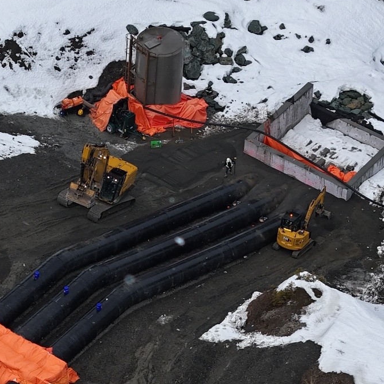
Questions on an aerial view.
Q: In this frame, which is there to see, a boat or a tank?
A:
tank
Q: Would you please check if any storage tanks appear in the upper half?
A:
Yes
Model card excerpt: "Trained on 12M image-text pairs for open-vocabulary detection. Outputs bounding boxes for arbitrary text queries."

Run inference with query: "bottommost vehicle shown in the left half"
[58,148,149,232]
